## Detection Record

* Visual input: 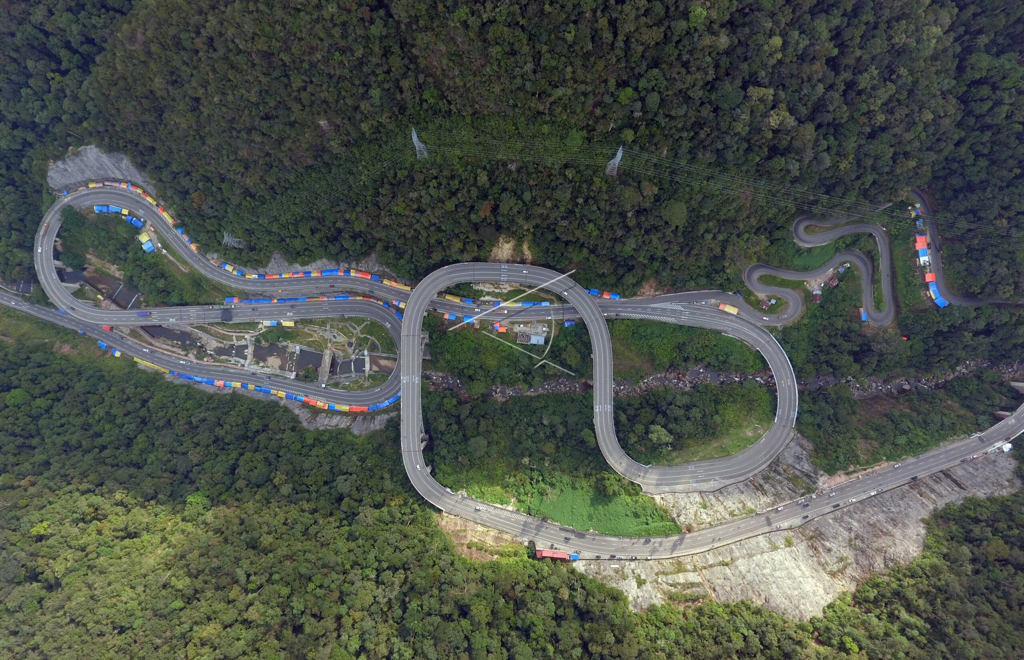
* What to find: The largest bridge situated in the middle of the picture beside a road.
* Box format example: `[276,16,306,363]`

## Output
[401,262,644,512]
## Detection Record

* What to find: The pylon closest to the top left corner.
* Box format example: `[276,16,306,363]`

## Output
[222,231,246,252]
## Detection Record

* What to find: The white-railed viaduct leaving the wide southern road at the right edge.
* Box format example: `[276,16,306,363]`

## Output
[978,402,1024,450]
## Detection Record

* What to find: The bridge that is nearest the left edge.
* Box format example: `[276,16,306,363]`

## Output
[33,194,227,330]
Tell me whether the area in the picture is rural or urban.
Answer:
rural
